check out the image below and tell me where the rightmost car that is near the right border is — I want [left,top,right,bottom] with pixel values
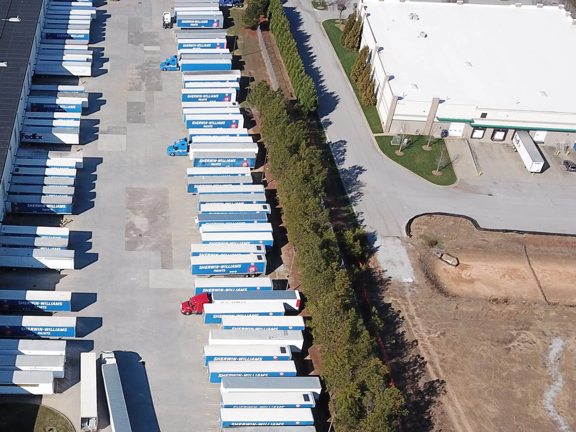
[561,157,576,171]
